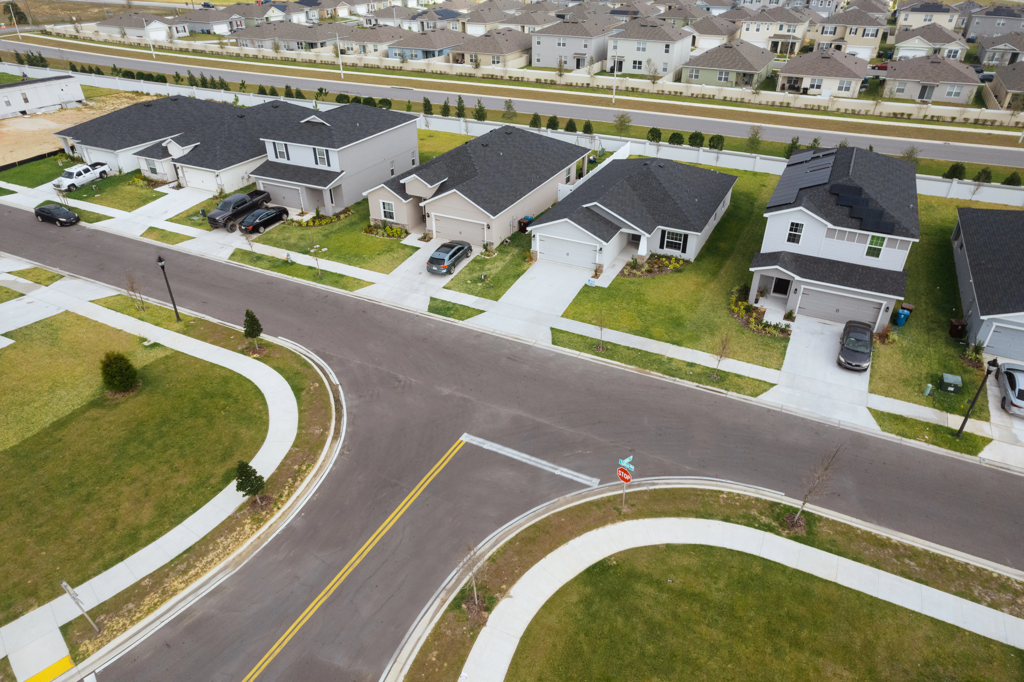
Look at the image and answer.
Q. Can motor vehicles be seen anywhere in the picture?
Yes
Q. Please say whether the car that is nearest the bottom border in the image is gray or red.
gray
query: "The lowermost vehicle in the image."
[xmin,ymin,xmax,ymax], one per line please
[995,360,1024,416]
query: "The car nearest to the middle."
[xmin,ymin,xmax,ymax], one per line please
[426,241,473,275]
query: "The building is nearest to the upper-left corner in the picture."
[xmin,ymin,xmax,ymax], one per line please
[96,12,186,38]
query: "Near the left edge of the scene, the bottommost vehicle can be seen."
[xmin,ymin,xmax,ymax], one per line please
[32,204,79,228]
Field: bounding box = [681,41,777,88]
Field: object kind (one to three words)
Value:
house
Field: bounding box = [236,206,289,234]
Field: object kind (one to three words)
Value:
car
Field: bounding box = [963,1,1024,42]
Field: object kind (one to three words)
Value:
house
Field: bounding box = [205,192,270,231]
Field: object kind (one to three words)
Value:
truck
